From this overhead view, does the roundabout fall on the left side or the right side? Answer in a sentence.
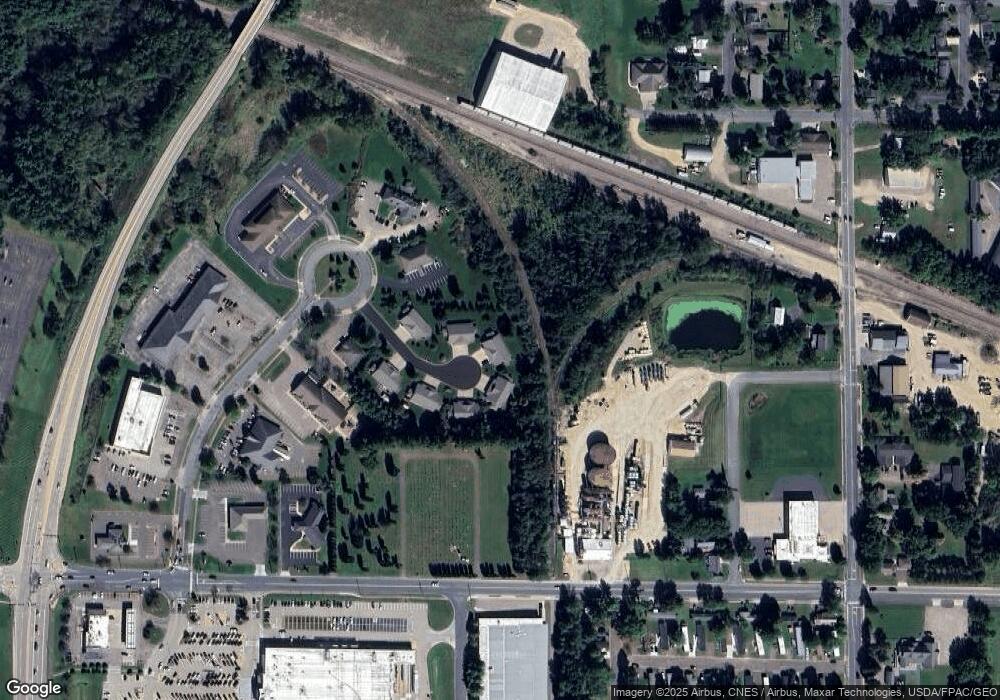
It is on the left.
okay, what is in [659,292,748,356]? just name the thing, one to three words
pond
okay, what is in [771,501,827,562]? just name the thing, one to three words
building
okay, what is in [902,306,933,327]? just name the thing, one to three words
shed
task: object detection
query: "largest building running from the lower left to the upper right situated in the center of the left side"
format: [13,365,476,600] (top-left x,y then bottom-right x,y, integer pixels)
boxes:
[137,262,233,359]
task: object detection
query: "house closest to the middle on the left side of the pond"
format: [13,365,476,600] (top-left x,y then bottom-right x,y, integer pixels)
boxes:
[480,332,514,367]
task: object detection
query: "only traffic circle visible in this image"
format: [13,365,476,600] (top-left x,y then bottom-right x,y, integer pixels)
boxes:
[298,234,379,315]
